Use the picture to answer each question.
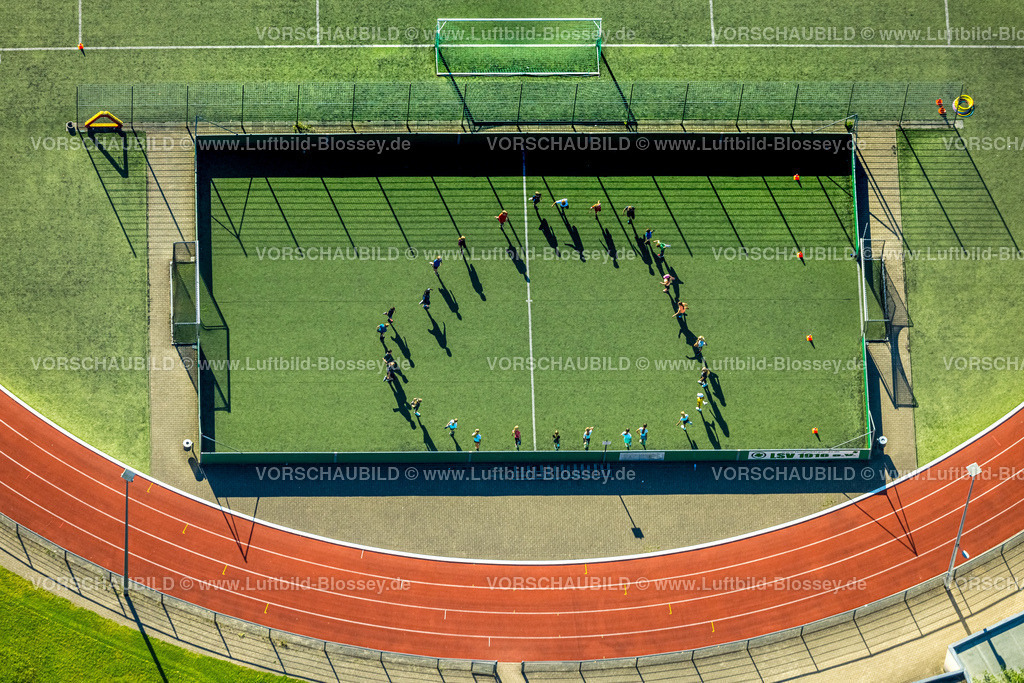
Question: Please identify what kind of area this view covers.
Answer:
sports ground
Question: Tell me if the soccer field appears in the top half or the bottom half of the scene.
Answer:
top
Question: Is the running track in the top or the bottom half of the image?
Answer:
bottom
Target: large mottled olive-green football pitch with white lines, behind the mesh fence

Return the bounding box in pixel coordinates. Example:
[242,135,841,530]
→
[0,0,1024,475]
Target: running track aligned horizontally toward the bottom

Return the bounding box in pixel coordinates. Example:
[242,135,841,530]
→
[0,383,1024,664]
